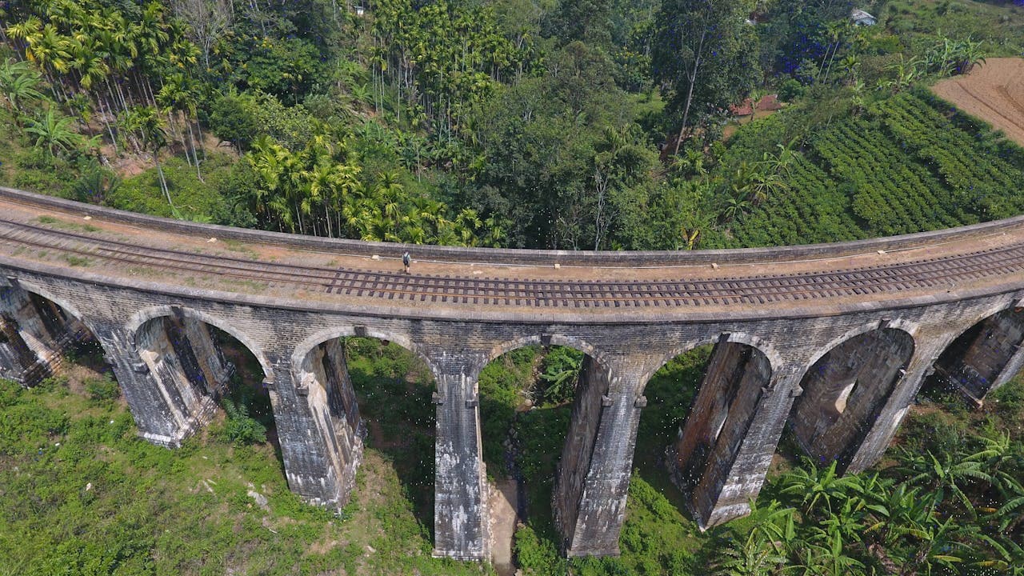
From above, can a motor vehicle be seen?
No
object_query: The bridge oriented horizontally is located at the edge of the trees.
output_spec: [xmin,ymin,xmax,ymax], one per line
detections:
[0,187,1024,573]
